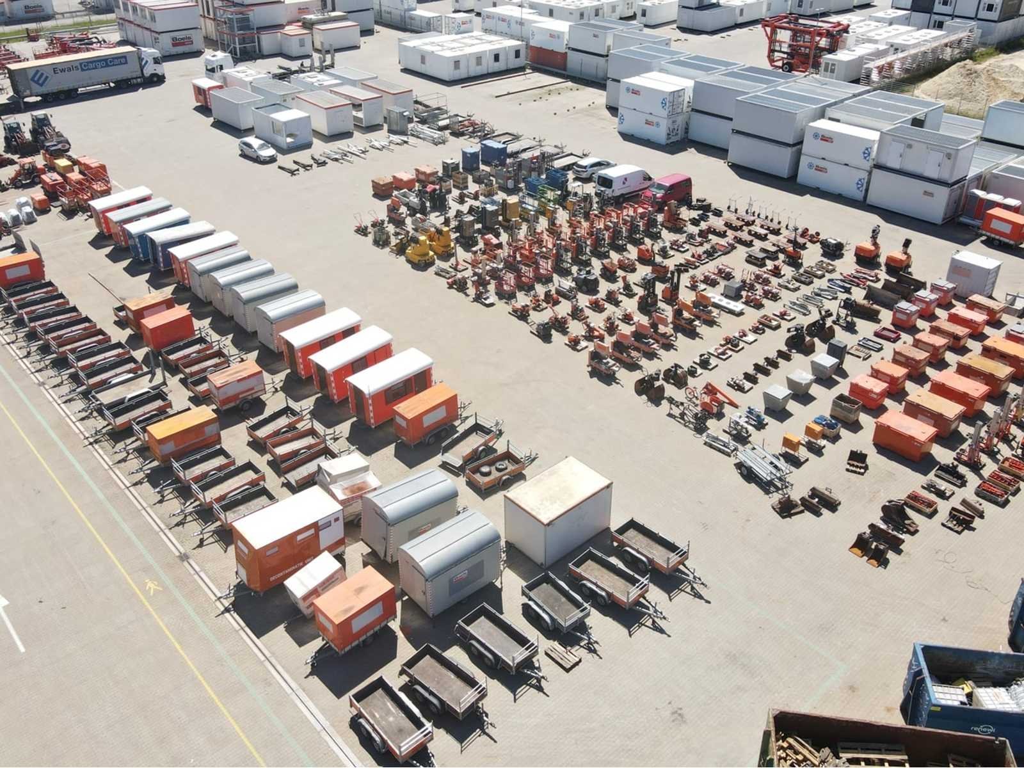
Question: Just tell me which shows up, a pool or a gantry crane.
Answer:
gantry crane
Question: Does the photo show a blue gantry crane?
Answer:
No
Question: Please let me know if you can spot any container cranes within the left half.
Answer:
No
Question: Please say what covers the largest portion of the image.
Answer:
paved ground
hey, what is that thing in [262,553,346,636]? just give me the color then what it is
white trailer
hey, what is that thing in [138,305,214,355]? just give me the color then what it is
red trailer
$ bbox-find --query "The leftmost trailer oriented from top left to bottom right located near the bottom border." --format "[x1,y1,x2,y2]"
[348,677,445,768]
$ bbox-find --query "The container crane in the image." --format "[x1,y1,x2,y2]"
[767,13,855,74]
